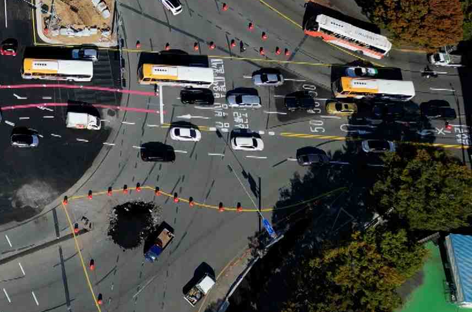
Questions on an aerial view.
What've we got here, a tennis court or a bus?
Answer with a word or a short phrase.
bus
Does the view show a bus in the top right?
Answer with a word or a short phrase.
Yes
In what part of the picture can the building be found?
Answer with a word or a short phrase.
bottom right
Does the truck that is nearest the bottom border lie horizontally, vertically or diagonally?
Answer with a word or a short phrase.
diagonally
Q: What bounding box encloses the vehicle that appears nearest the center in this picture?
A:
[231,137,264,152]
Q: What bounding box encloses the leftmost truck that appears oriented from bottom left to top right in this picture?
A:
[146,226,175,262]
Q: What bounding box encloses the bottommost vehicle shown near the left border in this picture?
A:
[8,131,40,147]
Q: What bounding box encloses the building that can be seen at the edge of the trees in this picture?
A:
[434,235,472,308]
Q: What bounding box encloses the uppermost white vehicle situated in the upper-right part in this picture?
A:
[309,15,388,57]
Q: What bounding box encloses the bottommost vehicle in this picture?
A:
[183,274,218,308]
